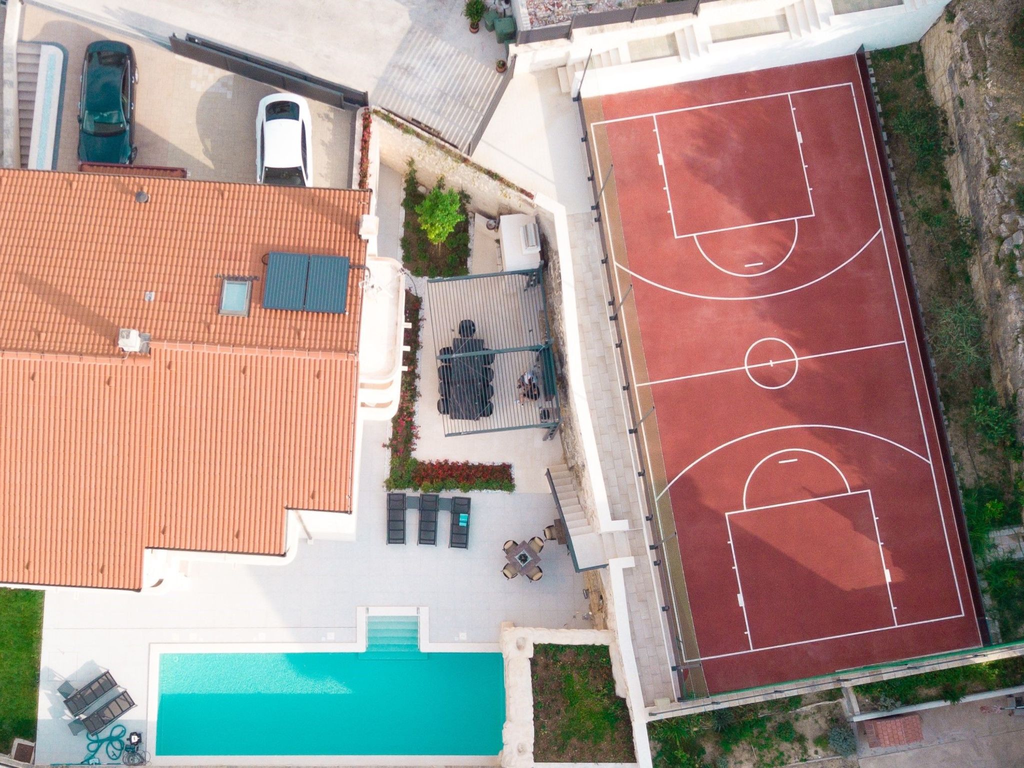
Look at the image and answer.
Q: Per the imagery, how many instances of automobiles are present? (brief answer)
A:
2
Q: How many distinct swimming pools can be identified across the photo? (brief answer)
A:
1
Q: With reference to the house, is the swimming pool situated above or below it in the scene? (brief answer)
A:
below it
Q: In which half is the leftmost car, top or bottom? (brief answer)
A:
top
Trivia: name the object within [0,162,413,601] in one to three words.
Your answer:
house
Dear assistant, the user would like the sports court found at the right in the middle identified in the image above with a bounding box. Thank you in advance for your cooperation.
[583,54,981,700]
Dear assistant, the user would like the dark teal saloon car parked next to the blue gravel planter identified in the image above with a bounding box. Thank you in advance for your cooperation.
[71,37,132,164]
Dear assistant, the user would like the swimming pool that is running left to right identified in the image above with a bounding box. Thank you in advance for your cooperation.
[146,607,504,765]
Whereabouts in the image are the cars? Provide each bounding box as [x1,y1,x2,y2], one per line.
[250,93,313,185]
[71,37,132,164]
